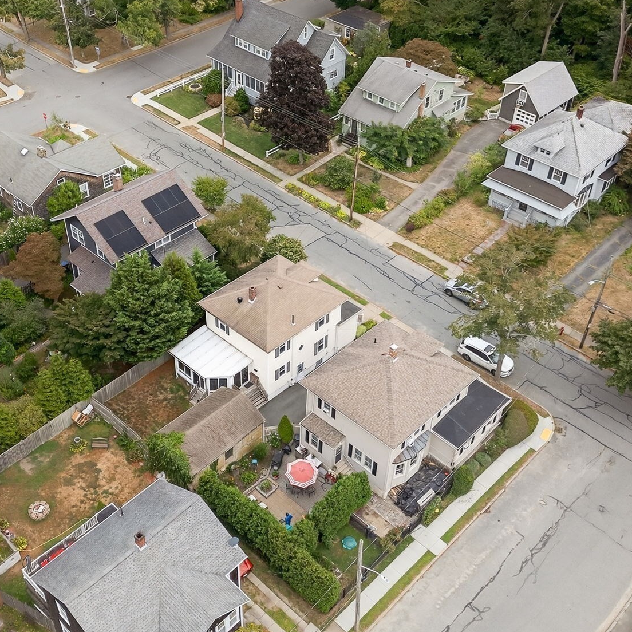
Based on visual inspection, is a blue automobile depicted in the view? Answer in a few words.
No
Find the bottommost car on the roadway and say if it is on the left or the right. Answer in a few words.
right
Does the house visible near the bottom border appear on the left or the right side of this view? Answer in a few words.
left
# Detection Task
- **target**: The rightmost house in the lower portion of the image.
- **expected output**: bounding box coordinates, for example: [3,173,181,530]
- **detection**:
[298,318,513,490]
